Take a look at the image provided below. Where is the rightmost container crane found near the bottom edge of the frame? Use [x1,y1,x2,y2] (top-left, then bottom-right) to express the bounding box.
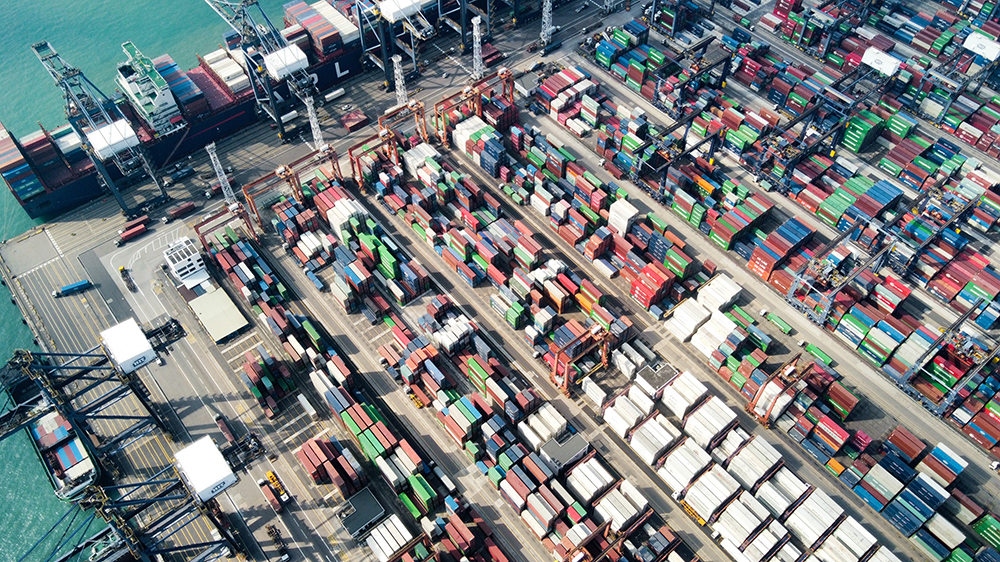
[561,510,632,562]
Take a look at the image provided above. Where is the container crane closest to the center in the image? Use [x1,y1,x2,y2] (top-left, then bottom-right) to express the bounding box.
[550,321,612,393]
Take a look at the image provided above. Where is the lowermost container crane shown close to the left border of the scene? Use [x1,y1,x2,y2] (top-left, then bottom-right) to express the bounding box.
[4,429,267,562]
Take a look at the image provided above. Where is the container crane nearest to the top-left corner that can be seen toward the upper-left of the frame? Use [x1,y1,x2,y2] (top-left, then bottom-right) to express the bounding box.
[28,42,178,222]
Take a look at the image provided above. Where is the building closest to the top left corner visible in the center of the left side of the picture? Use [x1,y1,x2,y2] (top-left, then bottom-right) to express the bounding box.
[161,236,206,282]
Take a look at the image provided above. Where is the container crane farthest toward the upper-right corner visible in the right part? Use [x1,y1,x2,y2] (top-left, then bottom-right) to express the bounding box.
[941,1,1000,73]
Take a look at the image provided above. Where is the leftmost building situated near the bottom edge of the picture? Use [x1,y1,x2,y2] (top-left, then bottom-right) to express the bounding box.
[342,487,386,540]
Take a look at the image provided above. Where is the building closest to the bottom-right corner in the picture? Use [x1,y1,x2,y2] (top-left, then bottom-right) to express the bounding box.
[636,364,680,396]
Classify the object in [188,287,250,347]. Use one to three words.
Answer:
building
